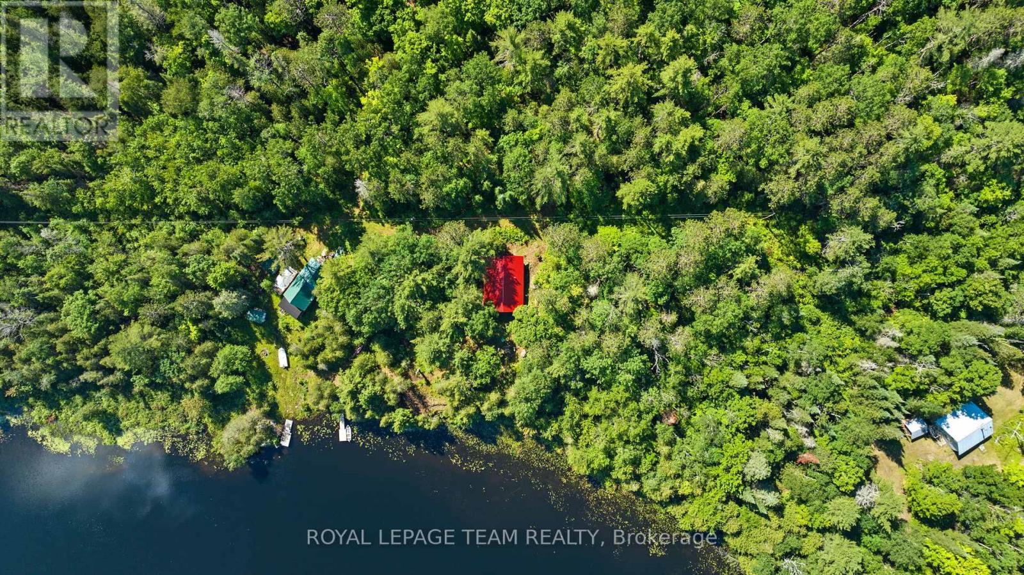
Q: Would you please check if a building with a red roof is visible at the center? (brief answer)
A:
Yes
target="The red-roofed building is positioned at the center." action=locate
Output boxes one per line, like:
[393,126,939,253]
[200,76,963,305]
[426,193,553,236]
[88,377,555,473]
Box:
[483,255,524,313]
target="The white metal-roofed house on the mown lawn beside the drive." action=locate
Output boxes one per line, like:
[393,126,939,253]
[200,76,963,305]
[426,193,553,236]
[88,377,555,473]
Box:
[931,404,993,457]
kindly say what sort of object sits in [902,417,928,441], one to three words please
shed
